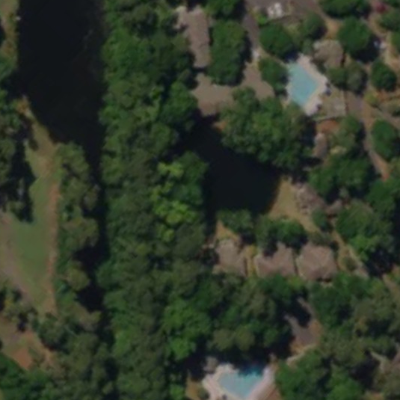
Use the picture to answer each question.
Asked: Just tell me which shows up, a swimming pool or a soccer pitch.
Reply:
swimming pool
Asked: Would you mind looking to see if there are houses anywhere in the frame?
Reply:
Yes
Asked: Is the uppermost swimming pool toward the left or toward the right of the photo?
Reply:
right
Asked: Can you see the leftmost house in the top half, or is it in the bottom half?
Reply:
top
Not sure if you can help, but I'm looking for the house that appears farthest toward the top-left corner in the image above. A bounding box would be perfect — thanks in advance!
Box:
[174,4,208,68]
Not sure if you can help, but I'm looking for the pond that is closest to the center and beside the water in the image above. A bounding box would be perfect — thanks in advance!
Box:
[193,127,280,221]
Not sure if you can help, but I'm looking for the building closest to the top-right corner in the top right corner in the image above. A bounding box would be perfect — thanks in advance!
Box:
[315,40,344,67]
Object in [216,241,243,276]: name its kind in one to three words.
house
